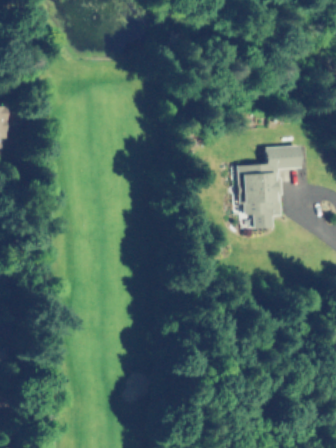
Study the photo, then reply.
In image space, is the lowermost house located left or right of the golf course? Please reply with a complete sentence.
It is on the right side of the golf course that the lowermost house is positioned.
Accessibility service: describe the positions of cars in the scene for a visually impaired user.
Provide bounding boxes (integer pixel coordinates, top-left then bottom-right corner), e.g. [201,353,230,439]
[291,170,298,184]
[314,202,322,217]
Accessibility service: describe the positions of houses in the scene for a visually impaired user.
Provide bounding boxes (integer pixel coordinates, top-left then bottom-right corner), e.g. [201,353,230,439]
[237,145,304,230]
[0,106,9,153]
